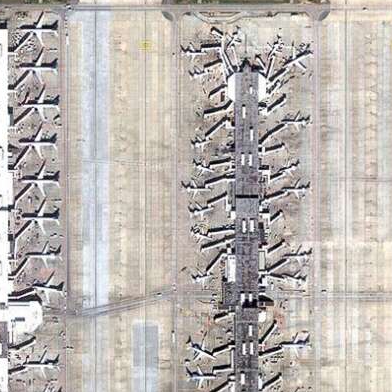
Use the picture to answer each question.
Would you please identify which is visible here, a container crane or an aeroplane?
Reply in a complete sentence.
This aerial view contains an aeroplane.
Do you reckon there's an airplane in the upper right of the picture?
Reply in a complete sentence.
Yes, an airplane can be seen in the upper right of the picture.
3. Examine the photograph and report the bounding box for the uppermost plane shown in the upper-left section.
[19,15,57,46]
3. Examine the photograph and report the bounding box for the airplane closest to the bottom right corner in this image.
[282,335,311,357]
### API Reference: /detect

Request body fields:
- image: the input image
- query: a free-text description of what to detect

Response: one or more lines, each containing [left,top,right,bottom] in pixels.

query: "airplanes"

[282,335,311,357]
[186,367,216,389]
[193,160,214,174]
[20,90,58,121]
[268,34,284,56]
[192,269,212,284]
[19,165,59,197]
[182,177,211,199]
[25,353,60,379]
[282,180,310,201]
[186,340,216,361]
[283,245,311,266]
[22,203,58,233]
[283,269,308,287]
[282,112,311,134]
[283,43,316,71]
[26,243,61,270]
[19,53,57,83]
[32,275,65,305]
[181,44,206,63]
[19,15,57,46]
[189,202,213,220]
[191,136,211,150]
[279,159,301,175]
[191,227,212,241]
[19,128,56,158]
